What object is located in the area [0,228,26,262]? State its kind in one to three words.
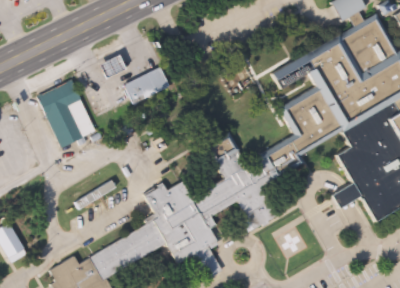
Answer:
building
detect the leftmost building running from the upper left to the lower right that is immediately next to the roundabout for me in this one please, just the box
[142,182,222,277]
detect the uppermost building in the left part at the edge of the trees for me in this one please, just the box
[123,68,169,104]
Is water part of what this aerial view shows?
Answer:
No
